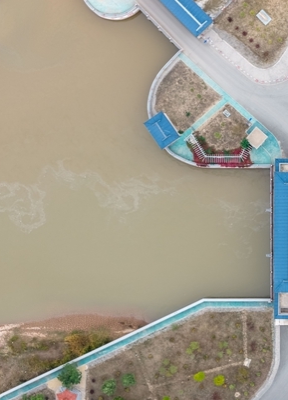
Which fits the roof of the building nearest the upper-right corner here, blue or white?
blue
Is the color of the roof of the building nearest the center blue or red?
blue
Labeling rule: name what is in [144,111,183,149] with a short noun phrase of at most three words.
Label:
building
